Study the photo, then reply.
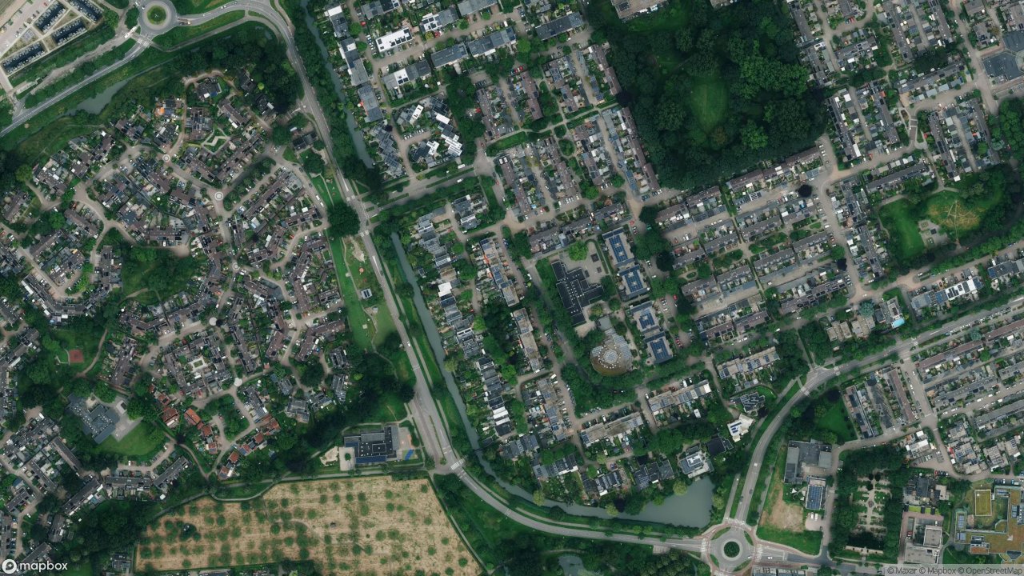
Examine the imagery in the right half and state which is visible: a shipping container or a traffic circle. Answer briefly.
traffic circle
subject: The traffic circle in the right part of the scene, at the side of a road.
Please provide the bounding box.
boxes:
[705,522,759,576]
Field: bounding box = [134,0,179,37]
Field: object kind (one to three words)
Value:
roundabout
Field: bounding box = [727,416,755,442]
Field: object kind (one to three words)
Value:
house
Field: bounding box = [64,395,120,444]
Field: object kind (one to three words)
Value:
building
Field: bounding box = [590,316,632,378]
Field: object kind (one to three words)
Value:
building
